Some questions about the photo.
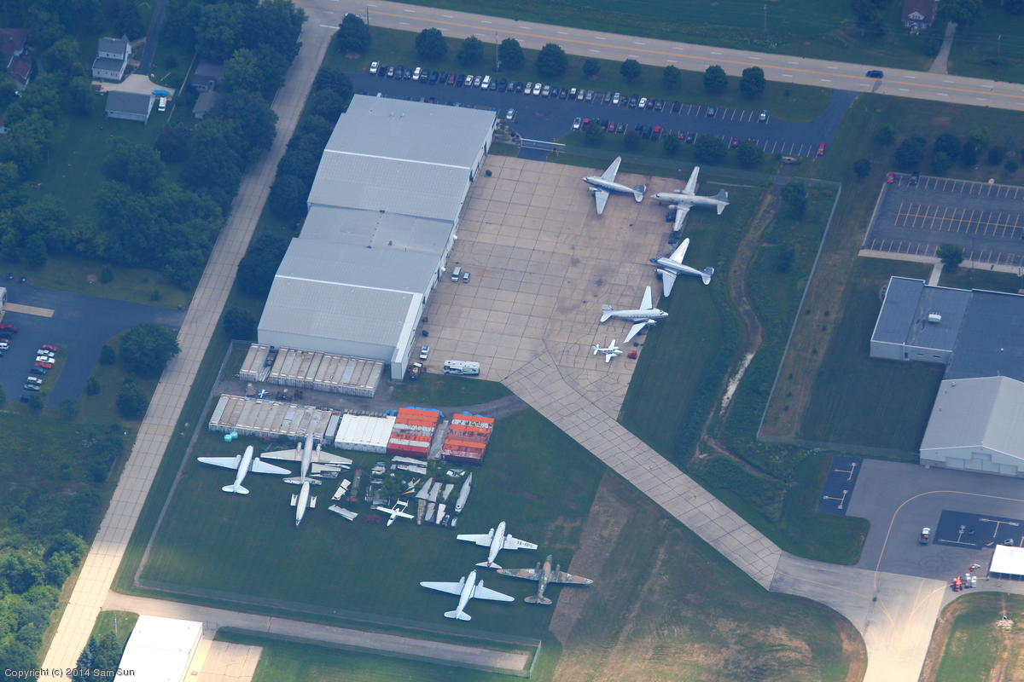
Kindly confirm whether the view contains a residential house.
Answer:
Yes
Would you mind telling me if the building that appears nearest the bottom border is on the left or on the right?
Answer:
left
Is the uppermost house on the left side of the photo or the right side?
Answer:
right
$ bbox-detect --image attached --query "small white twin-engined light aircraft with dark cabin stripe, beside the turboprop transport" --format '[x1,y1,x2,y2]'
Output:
[593,339,622,362]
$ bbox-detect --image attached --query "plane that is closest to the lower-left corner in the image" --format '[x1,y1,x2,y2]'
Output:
[197,445,292,493]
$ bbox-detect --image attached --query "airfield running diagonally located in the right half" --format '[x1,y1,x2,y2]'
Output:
[405,151,1024,682]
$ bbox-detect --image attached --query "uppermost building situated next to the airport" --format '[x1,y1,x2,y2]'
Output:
[306,93,497,234]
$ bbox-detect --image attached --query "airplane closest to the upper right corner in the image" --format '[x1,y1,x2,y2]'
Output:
[653,166,729,225]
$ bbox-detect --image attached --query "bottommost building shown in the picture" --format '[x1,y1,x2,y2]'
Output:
[114,614,203,682]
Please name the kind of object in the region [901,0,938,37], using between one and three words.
house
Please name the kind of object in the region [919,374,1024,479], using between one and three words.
hangar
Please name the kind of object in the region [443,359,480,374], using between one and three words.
vehicle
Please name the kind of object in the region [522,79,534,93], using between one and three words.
vehicle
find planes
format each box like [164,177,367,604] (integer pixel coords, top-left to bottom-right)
[650,239,712,296]
[456,522,538,570]
[197,445,292,493]
[602,287,667,343]
[254,388,271,399]
[496,555,594,604]
[593,339,622,362]
[583,158,645,213]
[260,437,352,486]
[653,166,729,225]
[419,570,515,619]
